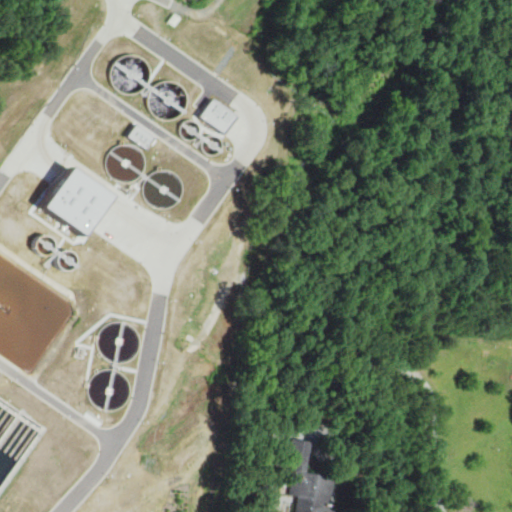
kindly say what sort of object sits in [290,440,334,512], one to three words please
house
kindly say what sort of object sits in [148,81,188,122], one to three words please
storage tank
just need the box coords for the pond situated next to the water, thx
[0,242,80,378]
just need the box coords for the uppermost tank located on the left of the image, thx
[110,54,152,96]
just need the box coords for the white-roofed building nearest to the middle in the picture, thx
[200,99,238,134]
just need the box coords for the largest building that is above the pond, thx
[46,168,118,236]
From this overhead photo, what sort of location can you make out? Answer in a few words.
industrial area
